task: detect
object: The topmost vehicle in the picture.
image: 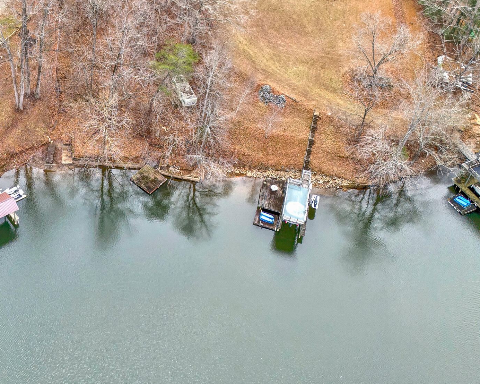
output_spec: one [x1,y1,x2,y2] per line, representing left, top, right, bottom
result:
[168,80,196,117]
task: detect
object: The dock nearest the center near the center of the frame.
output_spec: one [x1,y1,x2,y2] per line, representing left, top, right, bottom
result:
[257,166,313,239]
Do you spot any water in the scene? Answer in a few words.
Yes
